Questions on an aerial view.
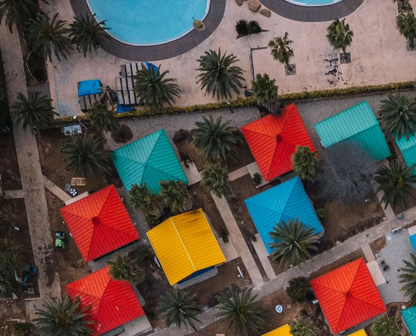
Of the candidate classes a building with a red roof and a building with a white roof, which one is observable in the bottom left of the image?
building with a red roof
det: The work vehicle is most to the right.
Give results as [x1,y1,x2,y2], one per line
[50,232,65,251]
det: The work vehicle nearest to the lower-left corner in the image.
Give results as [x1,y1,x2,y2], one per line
[20,265,40,291]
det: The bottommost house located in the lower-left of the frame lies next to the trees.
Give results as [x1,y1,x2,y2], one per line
[65,261,148,336]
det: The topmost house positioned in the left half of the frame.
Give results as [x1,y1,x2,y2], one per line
[113,128,191,199]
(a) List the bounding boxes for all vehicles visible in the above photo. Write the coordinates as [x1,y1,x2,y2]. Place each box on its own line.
[50,232,65,251]
[20,265,40,291]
